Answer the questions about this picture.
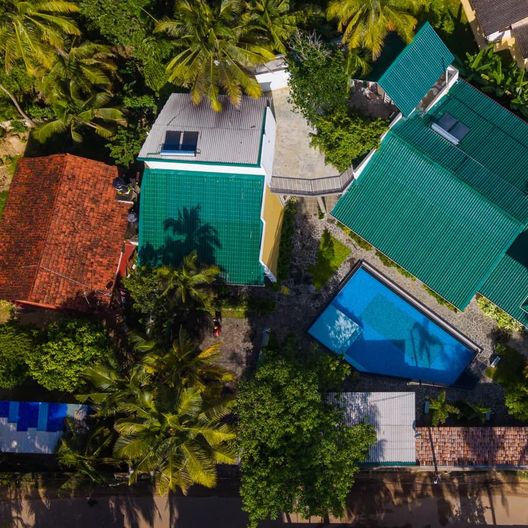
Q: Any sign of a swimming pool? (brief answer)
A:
Yes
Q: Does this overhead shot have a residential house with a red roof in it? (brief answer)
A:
Yes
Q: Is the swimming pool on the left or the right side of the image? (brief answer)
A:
right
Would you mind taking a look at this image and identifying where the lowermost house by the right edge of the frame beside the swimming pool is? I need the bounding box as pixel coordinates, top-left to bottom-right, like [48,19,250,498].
[329,76,528,326]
